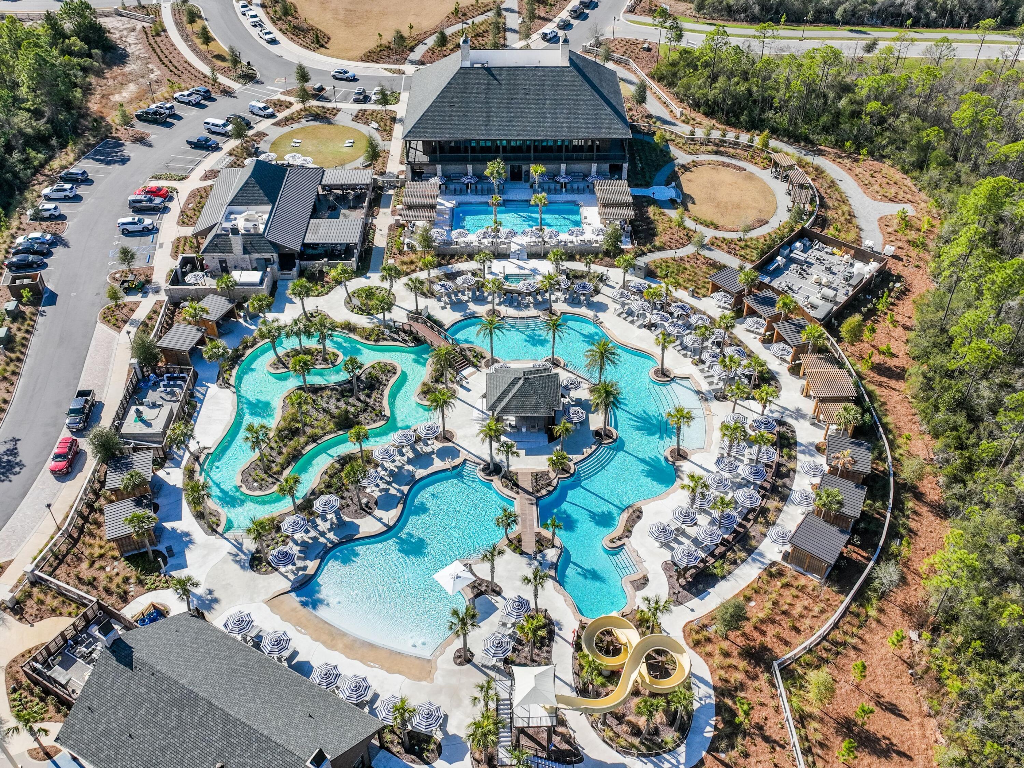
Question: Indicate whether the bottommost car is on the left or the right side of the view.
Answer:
left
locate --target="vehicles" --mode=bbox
[42,184,76,200]
[539,27,559,42]
[135,107,169,124]
[575,0,596,8]
[352,85,365,104]
[553,19,574,31]
[248,99,275,117]
[246,9,260,25]
[61,391,99,430]
[238,0,250,13]
[48,438,81,475]
[258,22,276,42]
[12,242,49,257]
[27,203,61,219]
[333,66,359,83]
[129,194,164,212]
[202,116,235,136]
[16,232,53,246]
[117,216,153,233]
[151,101,177,115]
[5,256,43,271]
[566,5,586,18]
[190,85,215,100]
[137,187,168,200]
[225,111,253,127]
[371,88,383,103]
[171,89,204,105]
[58,167,91,183]
[184,134,220,151]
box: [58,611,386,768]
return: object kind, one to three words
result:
building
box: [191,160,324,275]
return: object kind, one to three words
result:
building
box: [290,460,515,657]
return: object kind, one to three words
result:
swimming pool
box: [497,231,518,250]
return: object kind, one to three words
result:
umbrella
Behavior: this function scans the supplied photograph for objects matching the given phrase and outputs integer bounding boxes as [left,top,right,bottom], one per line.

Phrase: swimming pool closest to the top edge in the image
[454,204,581,233]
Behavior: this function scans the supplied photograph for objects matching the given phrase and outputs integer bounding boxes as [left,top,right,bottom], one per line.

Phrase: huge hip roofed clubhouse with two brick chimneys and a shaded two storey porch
[402,23,633,181]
